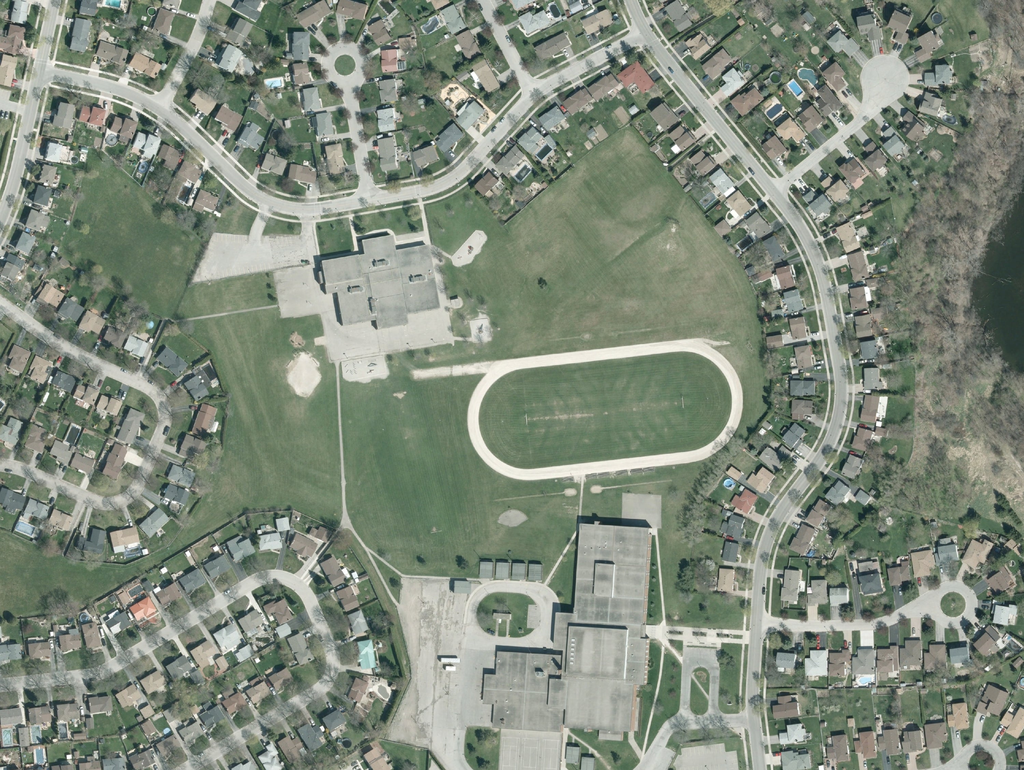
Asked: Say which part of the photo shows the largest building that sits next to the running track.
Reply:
bottom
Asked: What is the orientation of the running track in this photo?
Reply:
from left to right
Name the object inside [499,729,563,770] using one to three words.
tennis court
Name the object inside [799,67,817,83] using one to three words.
swimming pool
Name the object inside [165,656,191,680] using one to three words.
house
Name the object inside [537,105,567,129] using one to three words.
house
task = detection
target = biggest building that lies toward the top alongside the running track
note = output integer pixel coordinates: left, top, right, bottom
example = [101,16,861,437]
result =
[318,235,439,329]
